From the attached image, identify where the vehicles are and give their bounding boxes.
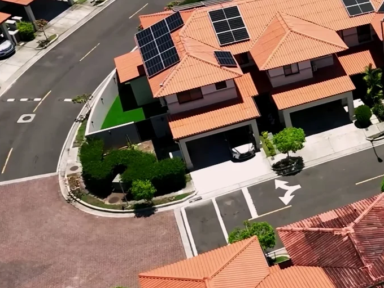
[222,124,261,159]
[0,32,24,58]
